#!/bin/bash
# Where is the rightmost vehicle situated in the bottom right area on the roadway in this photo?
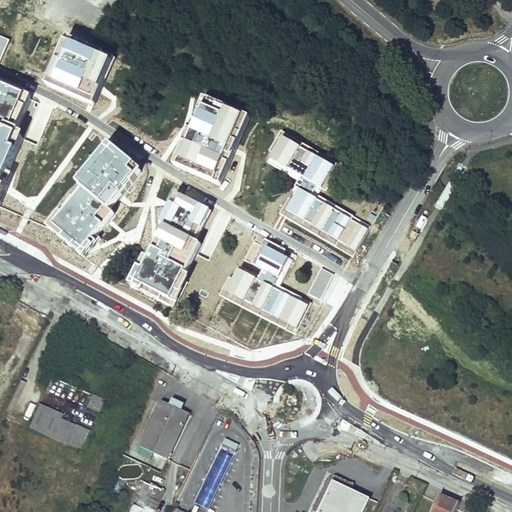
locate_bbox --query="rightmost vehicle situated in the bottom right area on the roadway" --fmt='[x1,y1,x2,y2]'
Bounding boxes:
[454,467,474,482]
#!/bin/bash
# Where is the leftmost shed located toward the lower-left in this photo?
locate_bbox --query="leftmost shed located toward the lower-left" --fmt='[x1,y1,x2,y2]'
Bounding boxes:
[30,403,90,449]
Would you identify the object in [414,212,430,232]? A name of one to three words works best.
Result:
vehicle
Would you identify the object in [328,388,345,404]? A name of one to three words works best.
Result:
vehicle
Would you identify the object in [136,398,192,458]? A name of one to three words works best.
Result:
building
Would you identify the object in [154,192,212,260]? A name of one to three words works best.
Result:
house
